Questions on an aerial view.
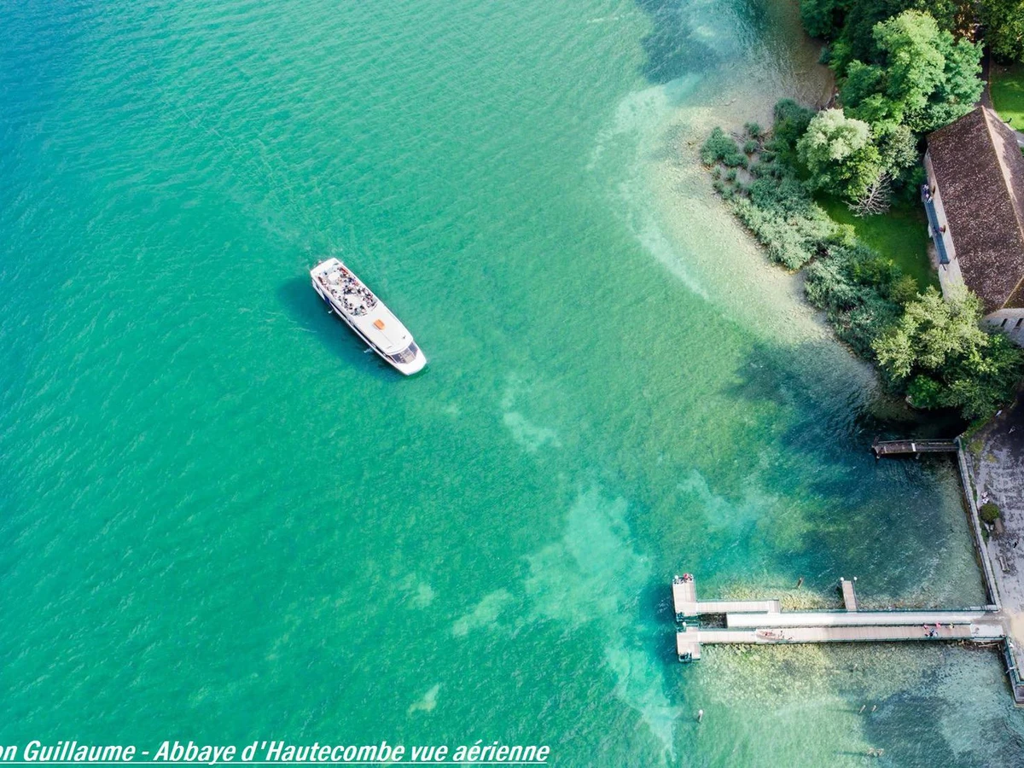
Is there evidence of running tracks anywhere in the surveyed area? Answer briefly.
No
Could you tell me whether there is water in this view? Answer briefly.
Yes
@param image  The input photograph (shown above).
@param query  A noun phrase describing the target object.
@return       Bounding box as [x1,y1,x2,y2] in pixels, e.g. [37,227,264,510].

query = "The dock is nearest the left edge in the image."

[675,578,780,624]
